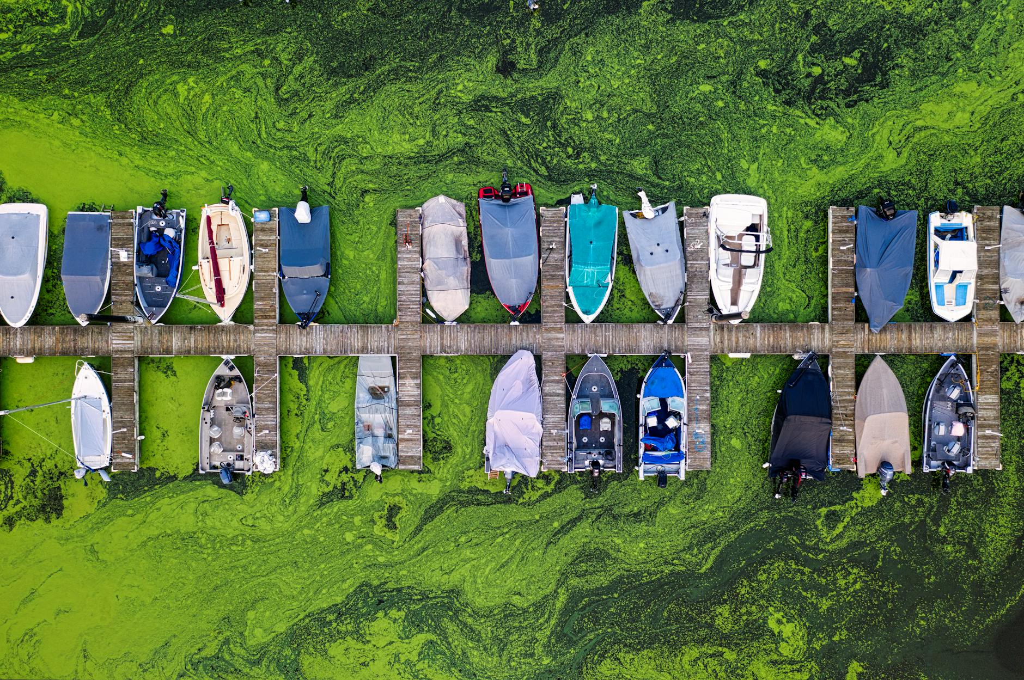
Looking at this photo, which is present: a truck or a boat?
boat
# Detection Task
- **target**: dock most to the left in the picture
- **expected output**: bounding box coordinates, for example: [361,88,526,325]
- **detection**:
[0,324,114,357]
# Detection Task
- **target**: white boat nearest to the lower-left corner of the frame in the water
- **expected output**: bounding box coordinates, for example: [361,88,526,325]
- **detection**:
[0,360,115,490]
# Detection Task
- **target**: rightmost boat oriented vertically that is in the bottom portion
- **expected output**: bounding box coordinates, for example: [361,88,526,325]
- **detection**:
[913,355,974,497]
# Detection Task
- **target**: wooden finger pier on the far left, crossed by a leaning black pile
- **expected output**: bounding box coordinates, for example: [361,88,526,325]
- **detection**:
[110,208,143,473]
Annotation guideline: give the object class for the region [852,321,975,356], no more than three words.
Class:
pier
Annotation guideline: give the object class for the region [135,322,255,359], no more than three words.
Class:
pier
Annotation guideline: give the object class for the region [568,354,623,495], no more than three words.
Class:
boat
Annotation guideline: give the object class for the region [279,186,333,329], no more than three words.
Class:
boat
